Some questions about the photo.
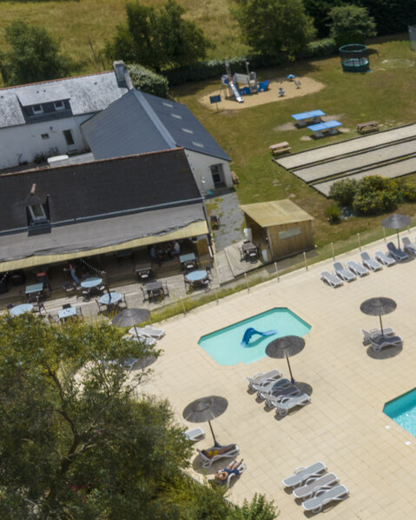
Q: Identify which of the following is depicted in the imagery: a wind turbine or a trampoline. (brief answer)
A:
trampoline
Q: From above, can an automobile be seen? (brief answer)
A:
No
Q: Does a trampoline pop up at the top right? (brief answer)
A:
Yes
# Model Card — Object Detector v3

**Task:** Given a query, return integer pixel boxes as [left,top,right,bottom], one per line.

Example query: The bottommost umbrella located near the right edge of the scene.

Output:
[360,297,398,330]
